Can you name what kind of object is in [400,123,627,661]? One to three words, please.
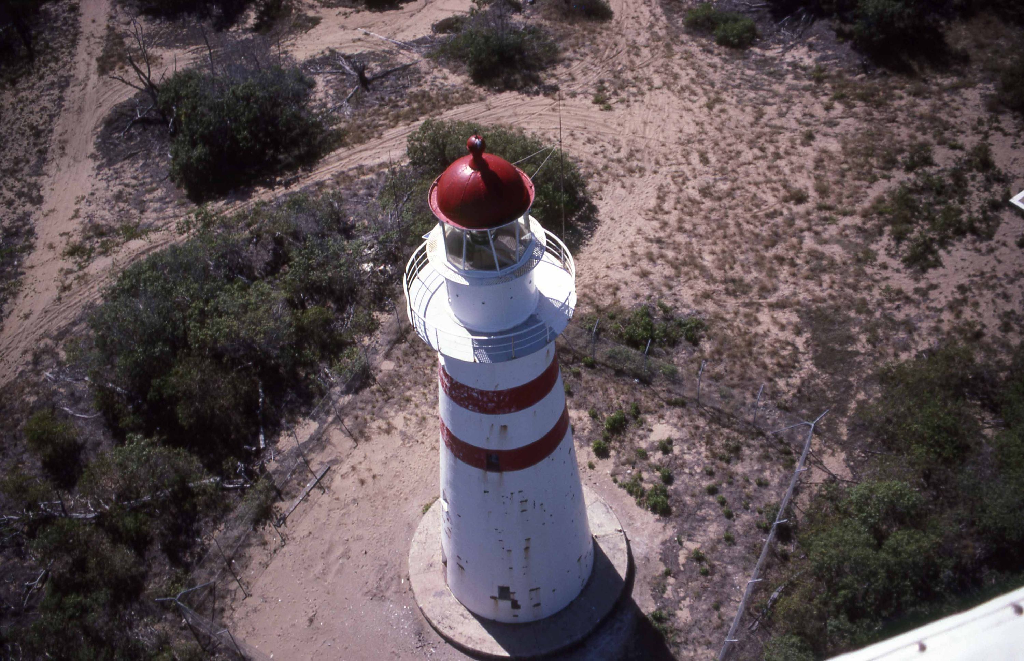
lighthouse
